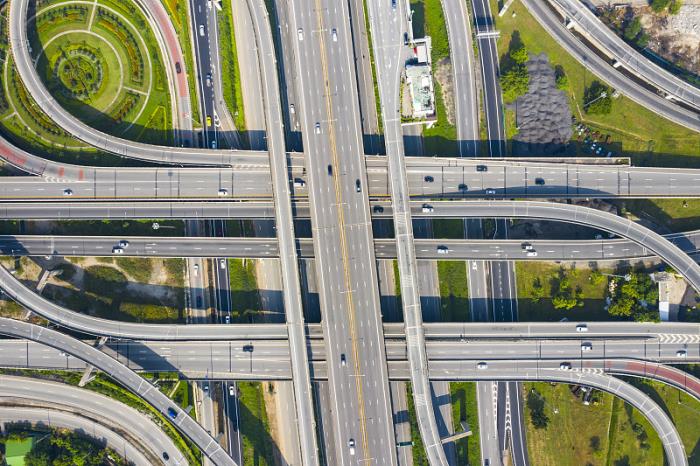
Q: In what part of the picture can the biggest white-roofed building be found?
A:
top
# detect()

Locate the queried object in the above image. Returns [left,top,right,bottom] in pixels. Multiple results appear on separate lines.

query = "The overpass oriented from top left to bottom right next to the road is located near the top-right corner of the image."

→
[552,0,700,111]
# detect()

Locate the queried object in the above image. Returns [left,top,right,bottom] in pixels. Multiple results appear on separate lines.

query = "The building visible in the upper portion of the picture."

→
[401,38,438,127]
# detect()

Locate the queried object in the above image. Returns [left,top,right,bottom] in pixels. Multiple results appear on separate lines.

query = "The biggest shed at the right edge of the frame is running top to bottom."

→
[655,280,669,321]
